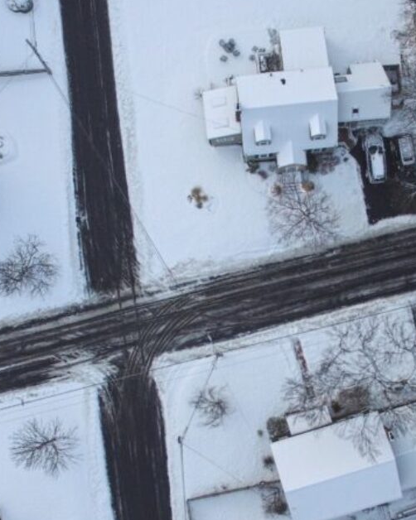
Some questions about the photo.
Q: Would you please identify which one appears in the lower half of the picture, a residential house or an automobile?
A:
residential house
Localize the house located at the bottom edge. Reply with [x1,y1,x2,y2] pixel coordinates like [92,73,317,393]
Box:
[270,402,416,520]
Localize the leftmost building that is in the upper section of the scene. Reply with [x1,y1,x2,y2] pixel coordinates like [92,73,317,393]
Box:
[203,26,389,183]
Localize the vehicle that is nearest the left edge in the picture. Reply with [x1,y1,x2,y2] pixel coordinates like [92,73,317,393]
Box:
[362,135,389,187]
